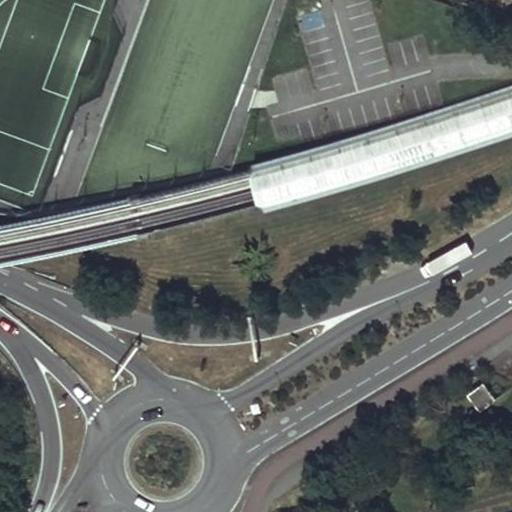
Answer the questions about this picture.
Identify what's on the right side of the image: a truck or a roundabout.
truck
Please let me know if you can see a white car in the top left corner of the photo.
No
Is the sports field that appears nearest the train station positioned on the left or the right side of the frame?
left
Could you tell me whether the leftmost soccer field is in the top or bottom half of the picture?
top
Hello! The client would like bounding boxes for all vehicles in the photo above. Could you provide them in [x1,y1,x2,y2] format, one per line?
[0,318,18,336]
[420,242,472,280]
[34,502,46,512]
[141,408,162,422]
[135,498,156,512]
[72,387,92,406]
[442,270,462,286]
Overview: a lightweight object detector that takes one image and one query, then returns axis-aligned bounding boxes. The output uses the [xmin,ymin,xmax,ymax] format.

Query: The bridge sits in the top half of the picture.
[0,96,511,269]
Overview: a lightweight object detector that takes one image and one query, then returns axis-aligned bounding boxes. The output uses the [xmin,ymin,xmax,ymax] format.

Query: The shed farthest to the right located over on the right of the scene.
[466,384,495,412]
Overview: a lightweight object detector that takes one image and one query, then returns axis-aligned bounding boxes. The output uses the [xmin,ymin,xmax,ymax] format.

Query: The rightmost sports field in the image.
[74,0,278,211]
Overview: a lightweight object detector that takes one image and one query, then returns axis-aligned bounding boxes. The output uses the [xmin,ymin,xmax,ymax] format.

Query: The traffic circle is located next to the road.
[126,422,204,501]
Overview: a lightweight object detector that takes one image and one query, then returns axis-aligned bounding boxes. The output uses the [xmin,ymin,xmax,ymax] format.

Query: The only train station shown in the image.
[250,86,512,210]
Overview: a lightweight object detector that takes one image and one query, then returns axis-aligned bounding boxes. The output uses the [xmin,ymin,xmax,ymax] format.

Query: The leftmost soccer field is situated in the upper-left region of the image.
[0,0,122,213]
